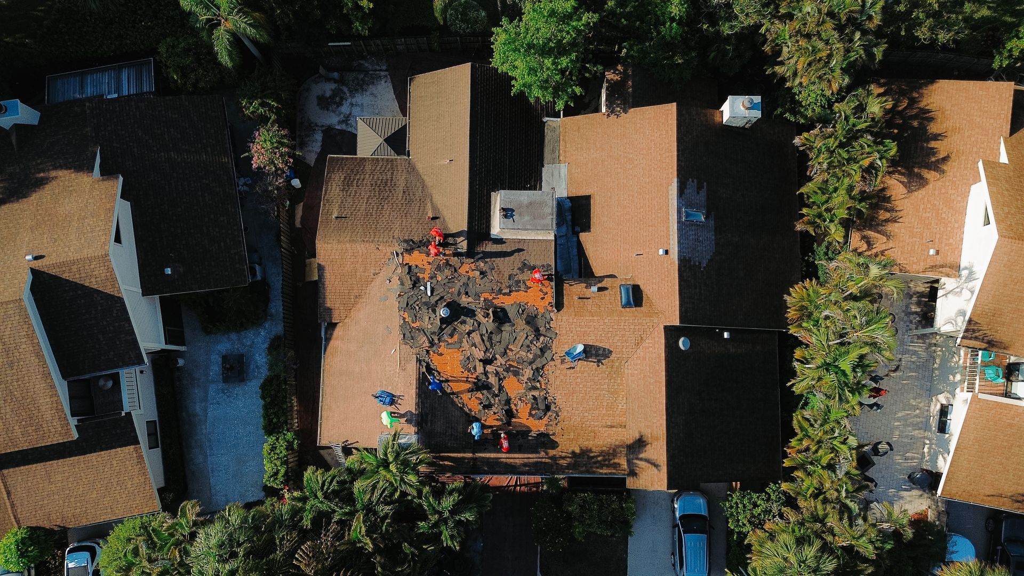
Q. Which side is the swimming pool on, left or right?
right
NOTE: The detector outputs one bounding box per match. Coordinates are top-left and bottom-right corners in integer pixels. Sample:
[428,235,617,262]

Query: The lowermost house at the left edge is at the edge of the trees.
[0,96,251,531]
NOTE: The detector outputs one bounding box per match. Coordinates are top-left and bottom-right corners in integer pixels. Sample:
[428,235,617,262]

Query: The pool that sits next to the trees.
[928,528,981,576]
